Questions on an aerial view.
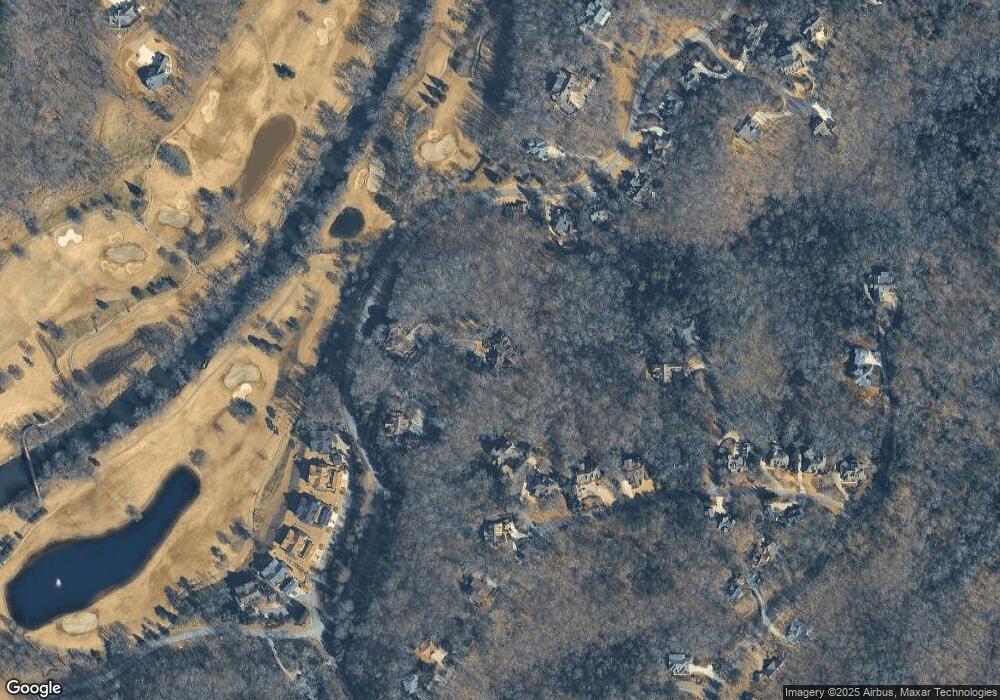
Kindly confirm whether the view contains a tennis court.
No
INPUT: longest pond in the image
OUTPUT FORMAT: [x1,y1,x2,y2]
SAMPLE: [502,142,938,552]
[6,466,199,629]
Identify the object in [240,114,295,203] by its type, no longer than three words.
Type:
pond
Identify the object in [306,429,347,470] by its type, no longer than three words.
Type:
house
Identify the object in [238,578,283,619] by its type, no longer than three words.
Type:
house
